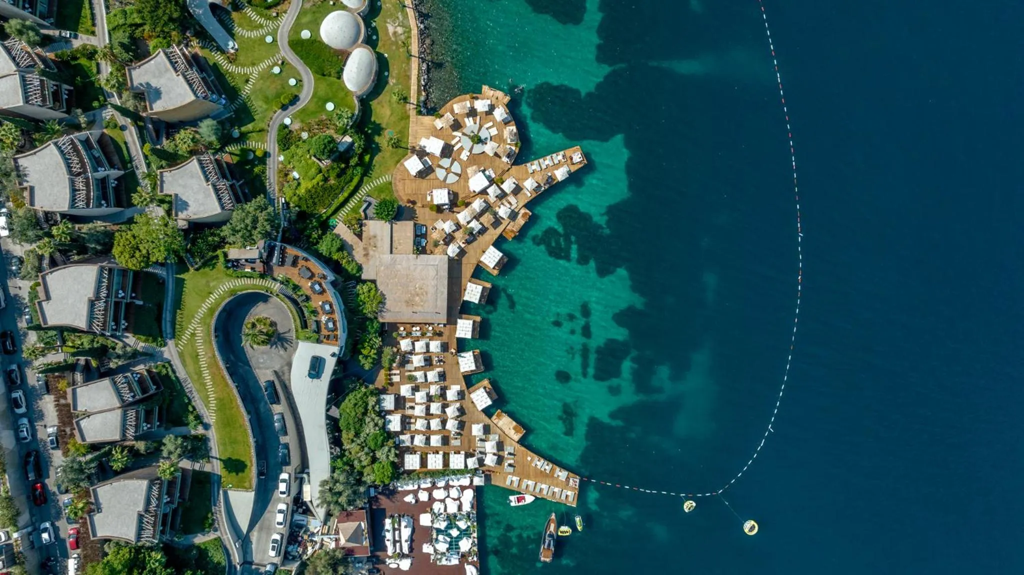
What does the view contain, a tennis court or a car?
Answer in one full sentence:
It is a car that can be seen here.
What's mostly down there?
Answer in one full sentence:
What you mostly see from above here is water.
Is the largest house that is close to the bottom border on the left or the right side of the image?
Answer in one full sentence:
The largest house that is close to the bottom border is on the left side of the image.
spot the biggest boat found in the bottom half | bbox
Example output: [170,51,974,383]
[540,514,557,566]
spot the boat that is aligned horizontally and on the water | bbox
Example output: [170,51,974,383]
[508,494,535,506]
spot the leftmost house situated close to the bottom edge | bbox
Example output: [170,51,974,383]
[86,464,193,548]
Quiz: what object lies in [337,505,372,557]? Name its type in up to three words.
house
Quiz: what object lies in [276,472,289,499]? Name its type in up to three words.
vehicle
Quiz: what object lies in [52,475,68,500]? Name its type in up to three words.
car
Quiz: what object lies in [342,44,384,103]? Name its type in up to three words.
building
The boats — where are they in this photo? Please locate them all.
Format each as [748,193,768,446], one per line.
[540,514,557,566]
[575,516,582,531]
[508,494,535,506]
